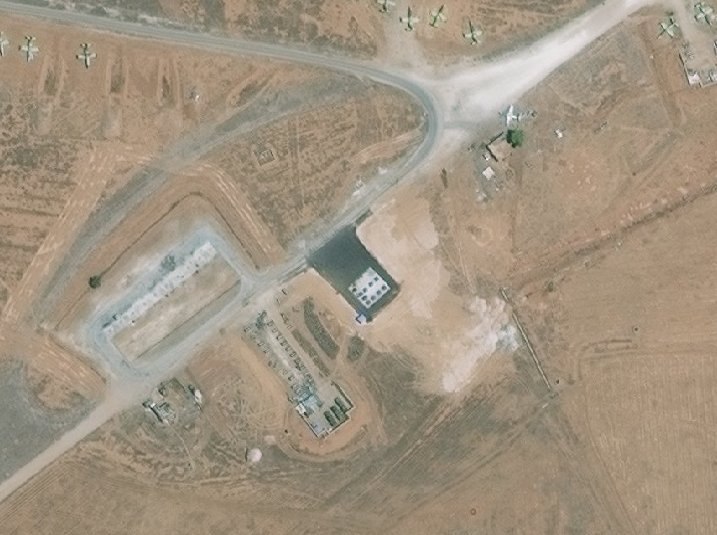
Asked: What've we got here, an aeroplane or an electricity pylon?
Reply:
aeroplane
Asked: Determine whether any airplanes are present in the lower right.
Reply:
No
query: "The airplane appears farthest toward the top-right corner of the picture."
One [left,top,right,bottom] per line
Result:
[695,2,716,25]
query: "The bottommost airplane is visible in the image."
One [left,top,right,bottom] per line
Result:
[499,105,522,125]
